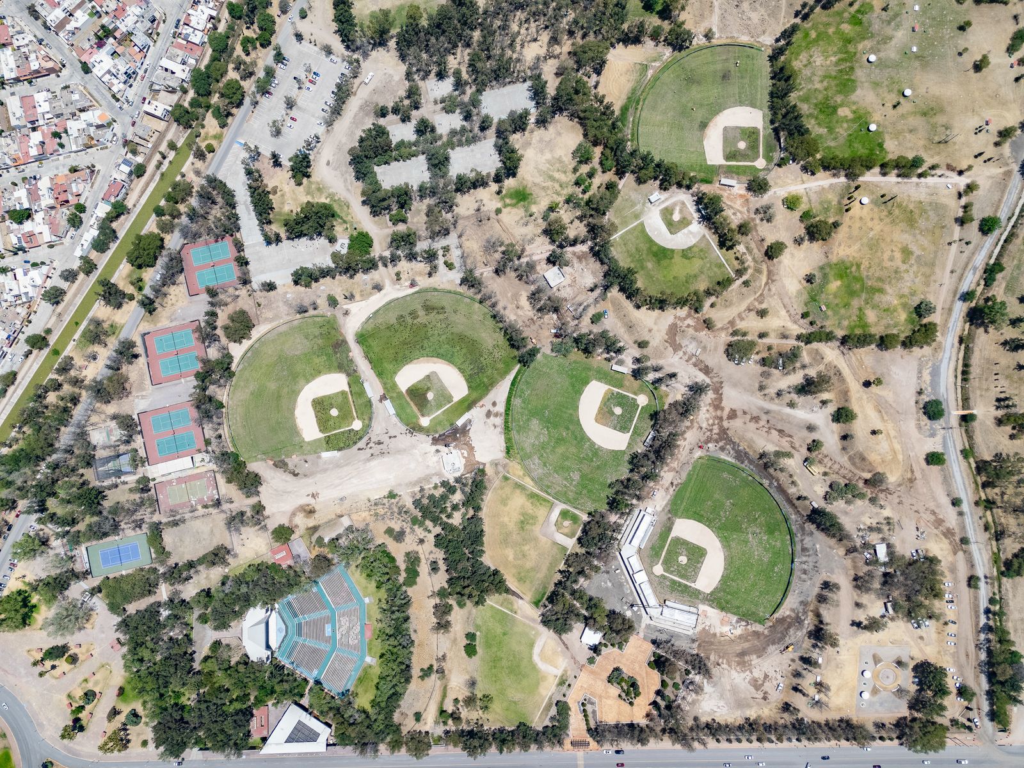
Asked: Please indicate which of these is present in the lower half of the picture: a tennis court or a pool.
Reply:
tennis court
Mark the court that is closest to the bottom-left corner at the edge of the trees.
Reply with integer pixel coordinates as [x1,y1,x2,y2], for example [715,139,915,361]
[84,533,151,579]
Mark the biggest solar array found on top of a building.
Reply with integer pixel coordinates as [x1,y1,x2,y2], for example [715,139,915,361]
[285,720,321,743]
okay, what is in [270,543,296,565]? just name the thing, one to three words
building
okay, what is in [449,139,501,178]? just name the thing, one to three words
sports court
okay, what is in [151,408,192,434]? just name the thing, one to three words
tennis court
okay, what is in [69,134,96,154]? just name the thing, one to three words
house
